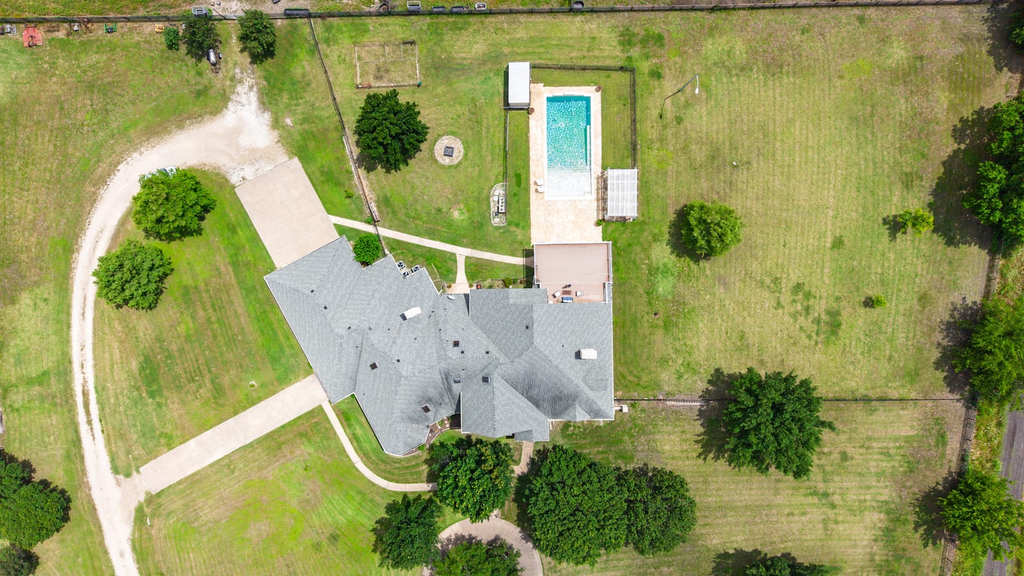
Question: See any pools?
Yes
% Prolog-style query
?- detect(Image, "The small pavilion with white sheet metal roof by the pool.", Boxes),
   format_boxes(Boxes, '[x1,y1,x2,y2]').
[505,61,530,112]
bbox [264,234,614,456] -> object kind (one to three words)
house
